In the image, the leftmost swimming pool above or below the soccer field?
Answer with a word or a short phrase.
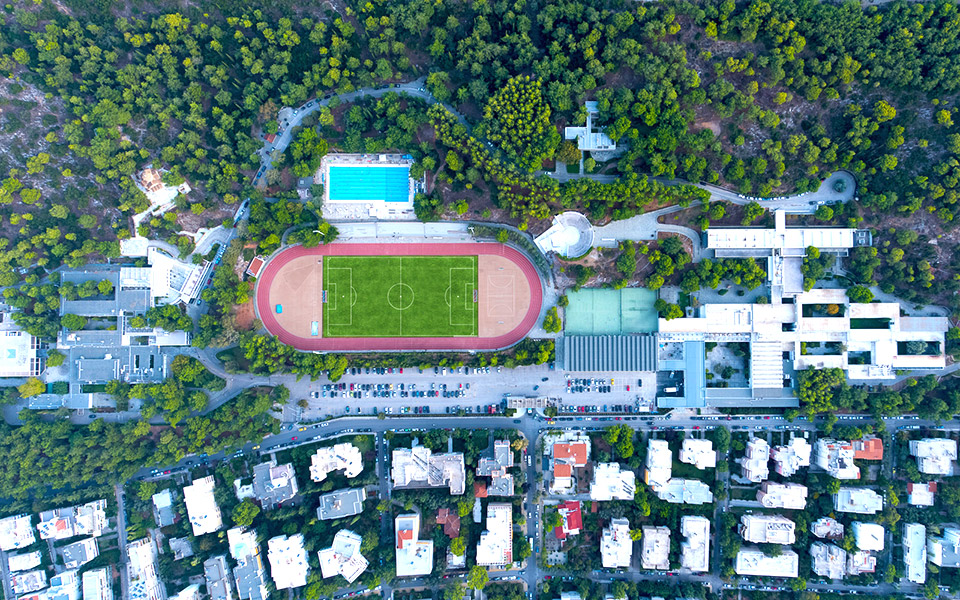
above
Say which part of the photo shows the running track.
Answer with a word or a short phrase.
center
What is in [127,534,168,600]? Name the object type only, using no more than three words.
building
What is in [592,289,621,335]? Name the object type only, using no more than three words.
tennis court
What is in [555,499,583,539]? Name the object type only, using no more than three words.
house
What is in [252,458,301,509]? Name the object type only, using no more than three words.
building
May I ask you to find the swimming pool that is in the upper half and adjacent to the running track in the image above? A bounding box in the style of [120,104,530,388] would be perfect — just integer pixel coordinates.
[320,154,417,219]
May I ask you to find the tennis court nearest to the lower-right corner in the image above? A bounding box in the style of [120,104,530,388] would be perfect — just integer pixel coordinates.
[622,289,657,335]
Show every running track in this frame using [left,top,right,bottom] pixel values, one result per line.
[257,244,543,350]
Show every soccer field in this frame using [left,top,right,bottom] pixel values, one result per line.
[322,256,478,338]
